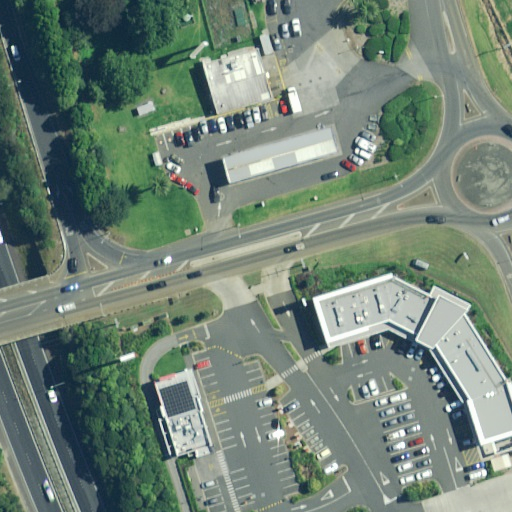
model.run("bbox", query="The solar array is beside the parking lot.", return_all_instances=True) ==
[160,382,194,418]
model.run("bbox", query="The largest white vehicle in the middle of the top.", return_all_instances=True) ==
[287,86,302,116]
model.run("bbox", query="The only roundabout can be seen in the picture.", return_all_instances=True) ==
[432,118,512,232]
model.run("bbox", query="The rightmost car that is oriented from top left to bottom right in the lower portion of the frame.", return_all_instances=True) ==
[392,340,404,356]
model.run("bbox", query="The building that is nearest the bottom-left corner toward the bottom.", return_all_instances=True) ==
[154,368,212,458]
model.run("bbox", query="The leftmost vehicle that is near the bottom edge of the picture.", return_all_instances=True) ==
[43,479,56,501]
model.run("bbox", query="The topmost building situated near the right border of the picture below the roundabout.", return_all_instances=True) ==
[313,273,512,460]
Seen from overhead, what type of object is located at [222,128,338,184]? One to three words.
shed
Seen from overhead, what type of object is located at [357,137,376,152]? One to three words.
vehicle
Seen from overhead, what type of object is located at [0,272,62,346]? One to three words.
bridge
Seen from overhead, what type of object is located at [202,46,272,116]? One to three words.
building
